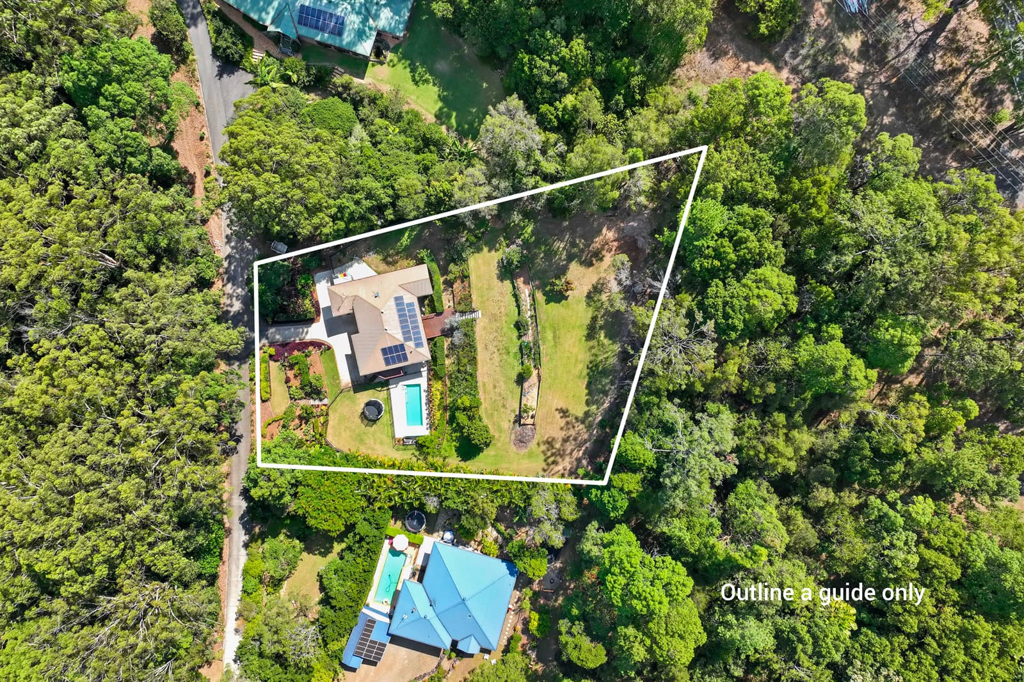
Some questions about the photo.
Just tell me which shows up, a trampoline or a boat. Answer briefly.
trampoline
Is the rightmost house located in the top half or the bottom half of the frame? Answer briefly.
bottom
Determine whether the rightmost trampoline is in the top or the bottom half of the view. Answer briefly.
bottom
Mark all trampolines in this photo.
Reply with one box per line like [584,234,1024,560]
[361,401,383,421]
[404,511,425,534]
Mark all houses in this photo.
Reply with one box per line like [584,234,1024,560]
[225,0,414,59]
[327,264,433,381]
[388,541,519,655]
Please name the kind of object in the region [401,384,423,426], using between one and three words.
swimming pool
